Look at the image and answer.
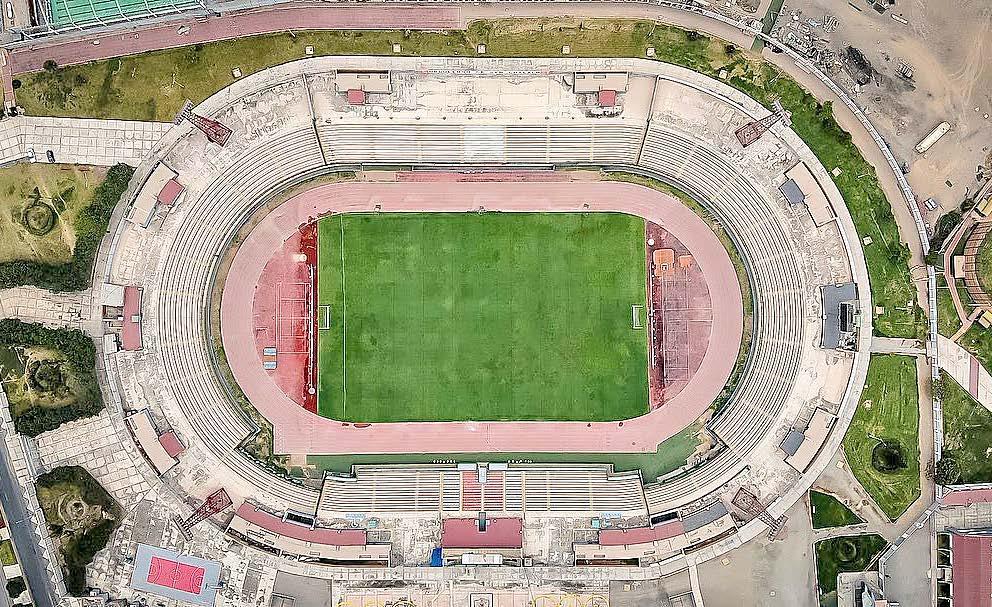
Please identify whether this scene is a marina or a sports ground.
sports ground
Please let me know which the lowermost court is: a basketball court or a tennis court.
basketball court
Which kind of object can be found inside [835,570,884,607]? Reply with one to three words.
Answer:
building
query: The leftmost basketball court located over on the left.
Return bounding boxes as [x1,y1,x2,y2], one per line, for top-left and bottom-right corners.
[132,544,222,606]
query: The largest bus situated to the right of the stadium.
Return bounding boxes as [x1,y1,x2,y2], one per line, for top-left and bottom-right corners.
[911,123,949,153]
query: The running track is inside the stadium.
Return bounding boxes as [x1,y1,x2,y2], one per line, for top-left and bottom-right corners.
[224,182,742,455]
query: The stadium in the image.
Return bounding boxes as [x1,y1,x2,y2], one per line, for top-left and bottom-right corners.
[90,55,874,584]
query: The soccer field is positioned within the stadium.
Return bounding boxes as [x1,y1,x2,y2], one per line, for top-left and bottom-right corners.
[317,212,650,421]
